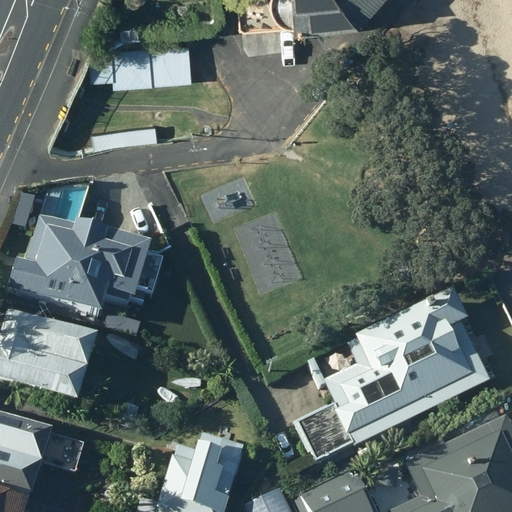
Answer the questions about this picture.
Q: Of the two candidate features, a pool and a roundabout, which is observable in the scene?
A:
pool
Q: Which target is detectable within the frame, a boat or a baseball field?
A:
boat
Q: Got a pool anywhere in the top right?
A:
No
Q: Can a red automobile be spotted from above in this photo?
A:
No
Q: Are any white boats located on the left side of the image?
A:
Yes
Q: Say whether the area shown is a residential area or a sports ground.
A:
residential area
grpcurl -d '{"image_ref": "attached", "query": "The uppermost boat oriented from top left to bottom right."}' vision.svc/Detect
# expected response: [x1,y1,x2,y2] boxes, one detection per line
[108,334,140,362]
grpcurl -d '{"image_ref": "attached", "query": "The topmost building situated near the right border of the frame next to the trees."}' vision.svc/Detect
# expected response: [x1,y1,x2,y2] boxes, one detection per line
[325,286,497,445]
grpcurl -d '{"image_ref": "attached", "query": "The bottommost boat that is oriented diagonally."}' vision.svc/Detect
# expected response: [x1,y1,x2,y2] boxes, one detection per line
[158,386,178,404]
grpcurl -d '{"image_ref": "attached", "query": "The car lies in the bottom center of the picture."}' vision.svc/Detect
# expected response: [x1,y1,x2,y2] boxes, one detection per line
[276,432,295,458]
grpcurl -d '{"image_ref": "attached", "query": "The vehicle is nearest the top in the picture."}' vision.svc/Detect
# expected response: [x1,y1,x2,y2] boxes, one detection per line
[280,32,294,66]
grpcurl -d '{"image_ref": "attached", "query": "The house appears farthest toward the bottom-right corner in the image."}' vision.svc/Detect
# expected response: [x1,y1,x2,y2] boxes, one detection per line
[390,414,512,512]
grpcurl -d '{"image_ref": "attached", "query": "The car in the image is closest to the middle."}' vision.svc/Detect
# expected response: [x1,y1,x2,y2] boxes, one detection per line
[130,206,148,234]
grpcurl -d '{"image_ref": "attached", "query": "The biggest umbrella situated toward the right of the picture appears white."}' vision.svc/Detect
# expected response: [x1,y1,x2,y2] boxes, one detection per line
[328,352,346,371]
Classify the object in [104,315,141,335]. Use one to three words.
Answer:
shed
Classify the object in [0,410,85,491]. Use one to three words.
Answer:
house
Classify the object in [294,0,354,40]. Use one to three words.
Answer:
house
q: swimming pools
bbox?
[40,183,90,221]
